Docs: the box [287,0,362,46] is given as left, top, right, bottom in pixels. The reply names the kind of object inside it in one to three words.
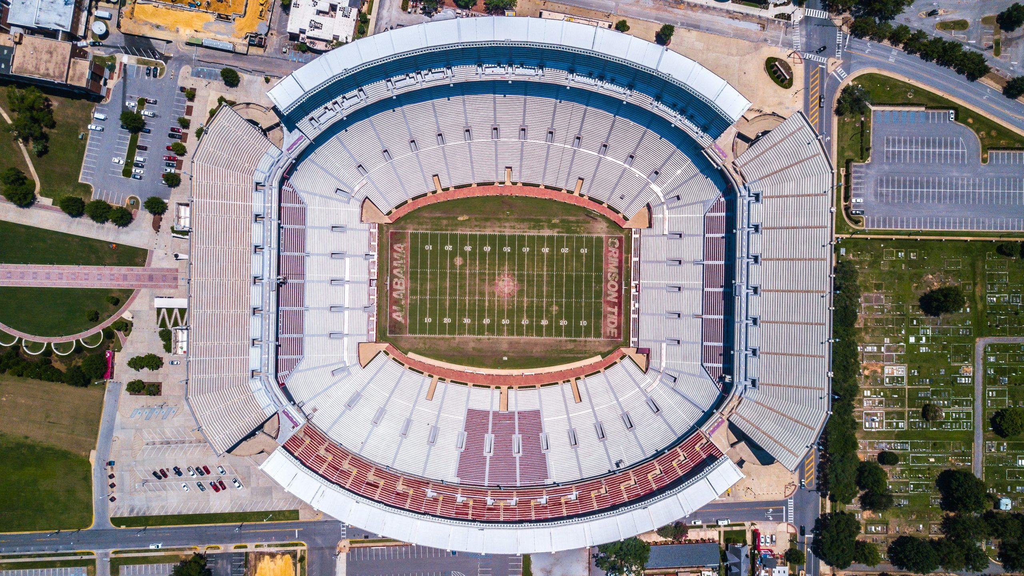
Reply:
building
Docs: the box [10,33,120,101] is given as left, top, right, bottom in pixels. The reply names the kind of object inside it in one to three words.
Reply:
building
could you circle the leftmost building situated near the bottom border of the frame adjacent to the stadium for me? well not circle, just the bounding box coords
[645,539,720,576]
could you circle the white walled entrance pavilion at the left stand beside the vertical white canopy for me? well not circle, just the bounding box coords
[171,327,188,356]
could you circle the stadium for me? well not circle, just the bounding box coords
[187,16,837,555]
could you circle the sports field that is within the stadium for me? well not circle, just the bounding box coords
[376,195,631,374]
